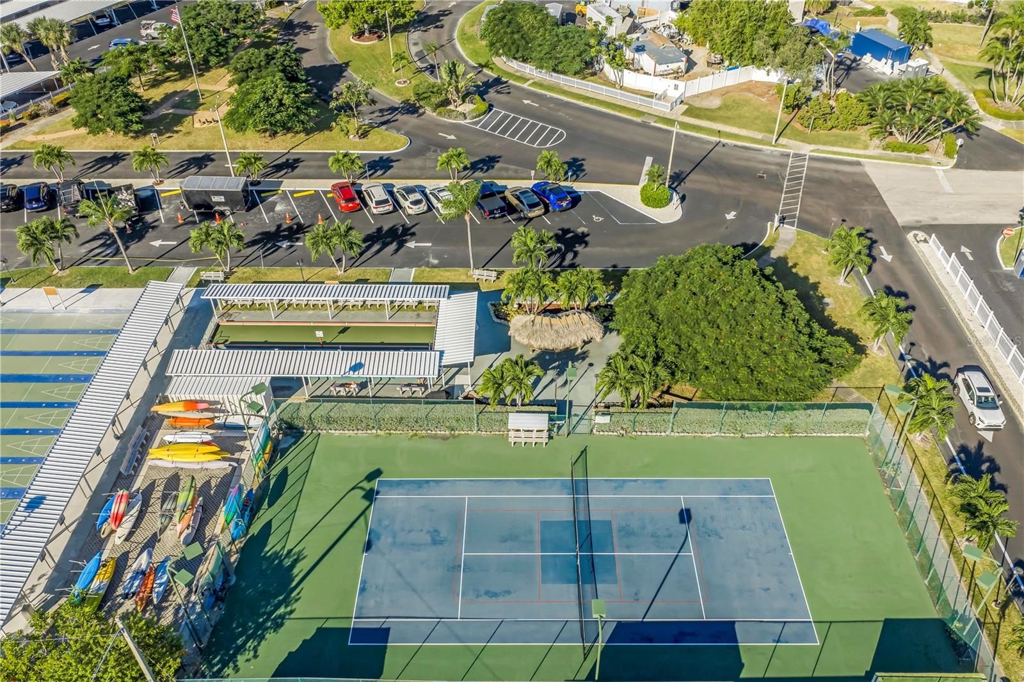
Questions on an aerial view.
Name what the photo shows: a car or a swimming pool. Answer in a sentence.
There is a car in the scene.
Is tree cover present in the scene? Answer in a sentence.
Yes, some tree cover is visible.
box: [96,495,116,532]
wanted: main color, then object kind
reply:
blue boat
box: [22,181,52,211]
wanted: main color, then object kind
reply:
blue car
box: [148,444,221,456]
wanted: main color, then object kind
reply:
yellow boat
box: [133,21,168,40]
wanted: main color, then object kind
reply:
white vehicle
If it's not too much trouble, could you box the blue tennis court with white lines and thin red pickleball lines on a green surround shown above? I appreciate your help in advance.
[199,433,986,682]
